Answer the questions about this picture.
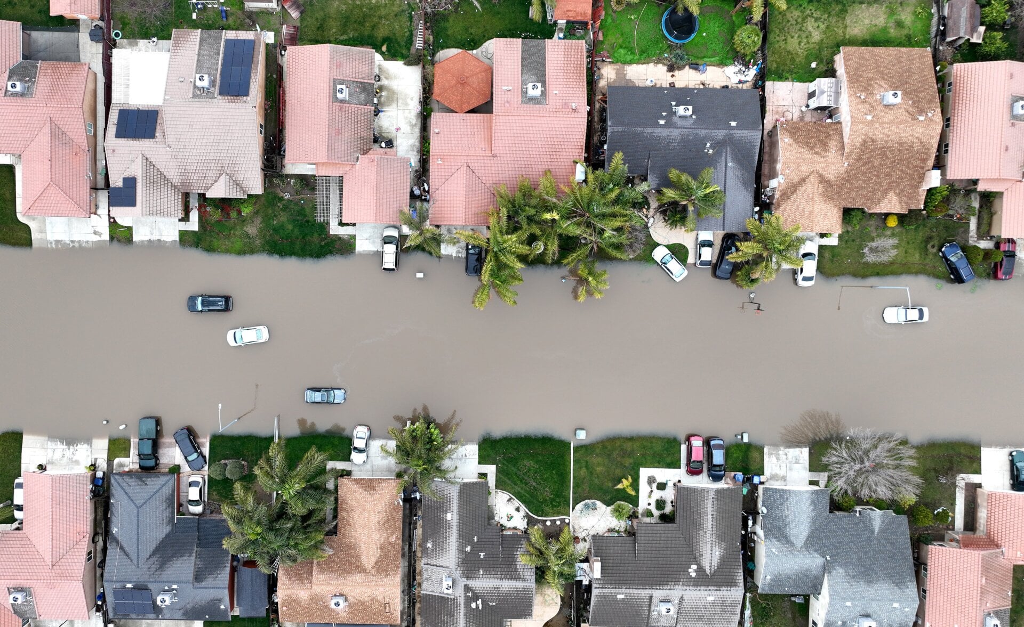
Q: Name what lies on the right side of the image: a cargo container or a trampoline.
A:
trampoline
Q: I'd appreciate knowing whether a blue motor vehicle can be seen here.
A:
Yes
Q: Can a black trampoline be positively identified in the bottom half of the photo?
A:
No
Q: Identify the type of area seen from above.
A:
residential area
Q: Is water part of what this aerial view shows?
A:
Yes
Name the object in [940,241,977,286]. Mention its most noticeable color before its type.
blue car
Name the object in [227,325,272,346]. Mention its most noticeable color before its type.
white car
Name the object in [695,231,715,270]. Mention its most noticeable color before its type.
white car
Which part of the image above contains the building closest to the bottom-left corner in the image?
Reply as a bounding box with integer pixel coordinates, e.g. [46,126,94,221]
[0,469,97,627]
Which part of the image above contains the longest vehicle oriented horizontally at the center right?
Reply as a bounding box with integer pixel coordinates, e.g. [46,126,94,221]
[880,305,928,326]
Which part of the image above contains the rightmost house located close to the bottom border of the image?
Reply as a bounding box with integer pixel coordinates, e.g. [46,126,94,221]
[918,486,1024,627]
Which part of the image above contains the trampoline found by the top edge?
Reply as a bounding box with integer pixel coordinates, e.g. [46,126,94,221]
[662,2,701,44]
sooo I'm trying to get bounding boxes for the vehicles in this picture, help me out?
[685,433,706,475]
[707,436,728,481]
[463,234,483,278]
[991,237,1016,282]
[695,231,715,270]
[227,325,272,346]
[1007,449,1024,489]
[795,239,819,287]
[650,245,690,284]
[350,422,372,465]
[380,227,401,272]
[137,417,161,470]
[940,241,977,286]
[188,293,235,314]
[185,472,207,516]
[712,233,738,281]
[174,425,207,471]
[12,475,23,520]
[880,305,928,326]
[305,386,348,406]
